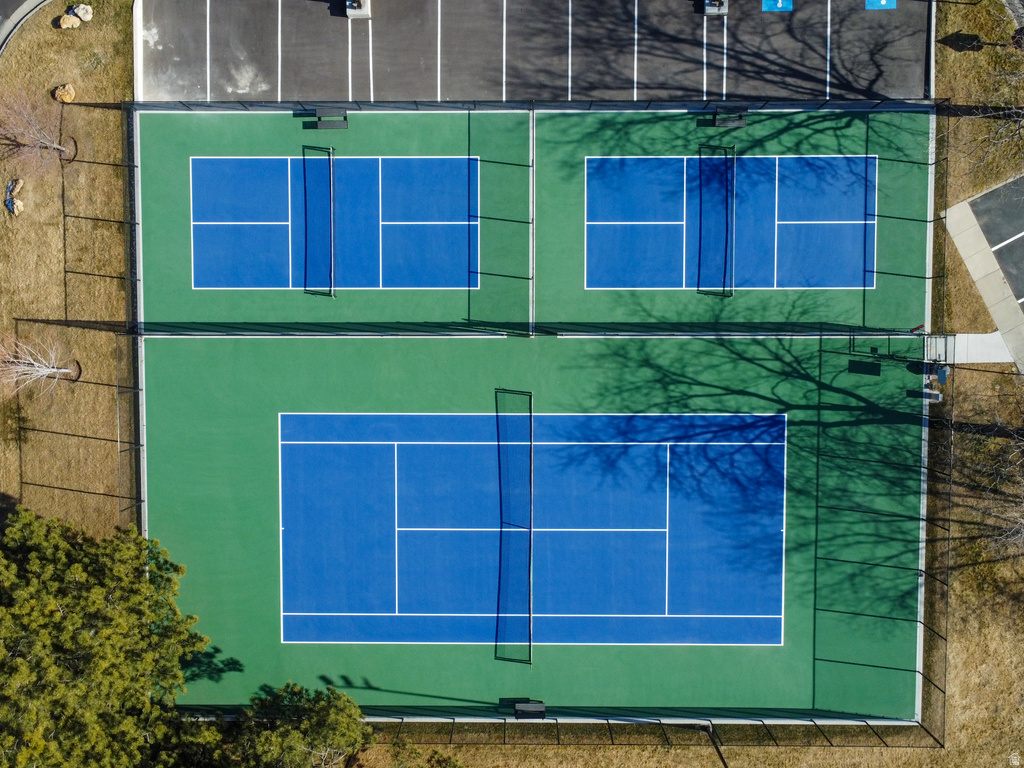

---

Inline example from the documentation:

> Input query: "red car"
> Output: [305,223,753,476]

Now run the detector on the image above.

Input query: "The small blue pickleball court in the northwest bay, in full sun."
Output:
[140,112,530,335]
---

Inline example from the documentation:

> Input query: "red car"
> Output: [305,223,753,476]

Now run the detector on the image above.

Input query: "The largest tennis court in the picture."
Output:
[144,336,924,717]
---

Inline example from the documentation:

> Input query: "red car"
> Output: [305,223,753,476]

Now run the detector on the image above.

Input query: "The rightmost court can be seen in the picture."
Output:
[535,112,929,335]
